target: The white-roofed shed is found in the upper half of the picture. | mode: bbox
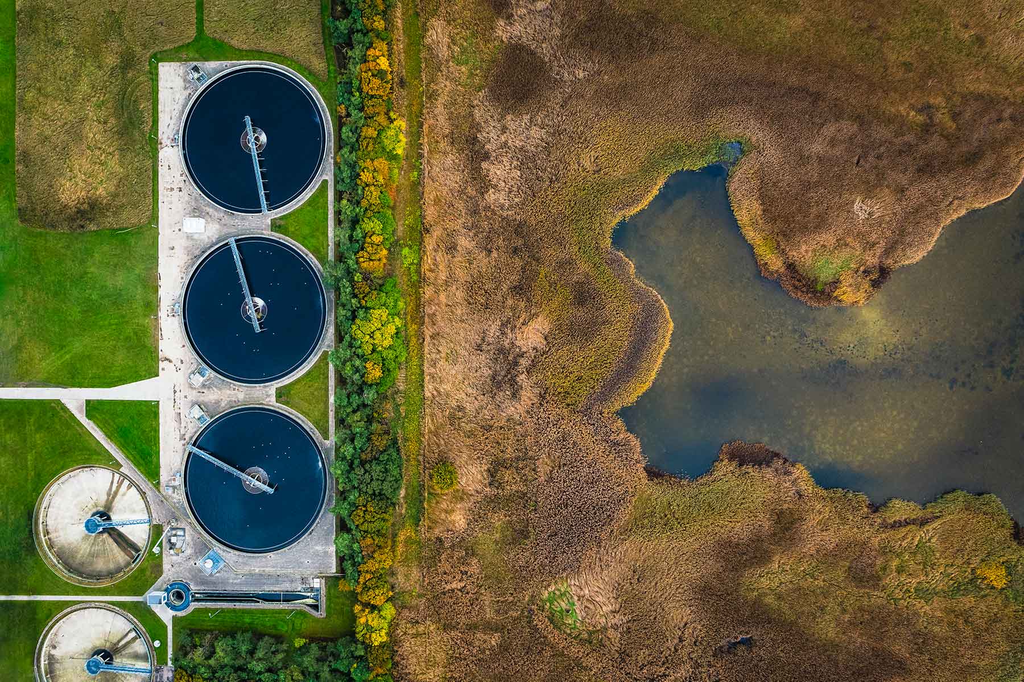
[183,217,208,234]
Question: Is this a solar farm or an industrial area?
industrial area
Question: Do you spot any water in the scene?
Yes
